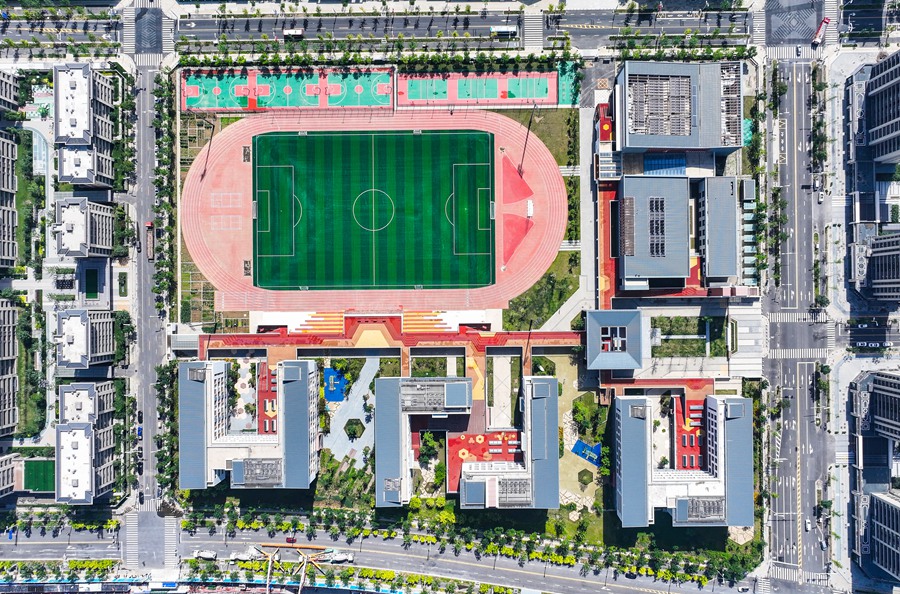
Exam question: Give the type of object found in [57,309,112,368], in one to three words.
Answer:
building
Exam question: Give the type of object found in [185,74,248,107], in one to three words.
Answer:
basketball court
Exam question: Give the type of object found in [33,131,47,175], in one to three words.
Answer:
building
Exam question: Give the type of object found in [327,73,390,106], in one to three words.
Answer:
basketball court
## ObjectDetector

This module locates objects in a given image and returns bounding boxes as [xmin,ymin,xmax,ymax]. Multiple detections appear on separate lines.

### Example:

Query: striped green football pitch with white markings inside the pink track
[252,131,495,290]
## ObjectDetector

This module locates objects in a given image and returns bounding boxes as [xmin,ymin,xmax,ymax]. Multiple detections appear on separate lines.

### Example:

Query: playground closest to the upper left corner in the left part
[20,85,53,118]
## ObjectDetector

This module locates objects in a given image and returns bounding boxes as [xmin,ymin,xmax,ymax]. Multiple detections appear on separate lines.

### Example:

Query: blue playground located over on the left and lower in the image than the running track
[324,368,348,402]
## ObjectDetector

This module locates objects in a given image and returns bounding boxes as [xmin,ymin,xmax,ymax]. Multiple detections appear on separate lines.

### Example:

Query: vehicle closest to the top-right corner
[810,18,830,47]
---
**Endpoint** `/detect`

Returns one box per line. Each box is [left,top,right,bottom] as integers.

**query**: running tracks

[181,110,568,311]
